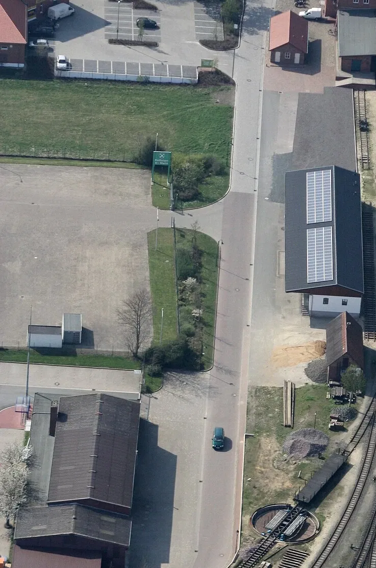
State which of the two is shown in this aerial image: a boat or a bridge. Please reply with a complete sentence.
Visible in the photo is a bridge.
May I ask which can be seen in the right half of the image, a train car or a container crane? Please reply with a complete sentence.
The feature located in the right half of the image is a train car.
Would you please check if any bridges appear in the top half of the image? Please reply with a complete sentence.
No, there's no bridge to be seen in the top half of the image.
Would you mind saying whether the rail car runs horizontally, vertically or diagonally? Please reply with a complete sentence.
In this picture, the rail car is oriented diagonally.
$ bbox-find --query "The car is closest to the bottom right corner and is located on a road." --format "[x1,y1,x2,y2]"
[213,429,225,446]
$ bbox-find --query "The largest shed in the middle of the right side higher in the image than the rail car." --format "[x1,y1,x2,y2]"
[284,165,365,313]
